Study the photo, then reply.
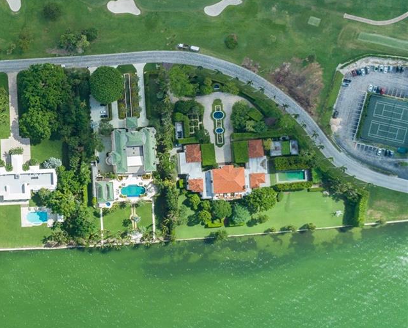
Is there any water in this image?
Yes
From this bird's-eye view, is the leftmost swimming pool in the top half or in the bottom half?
bottom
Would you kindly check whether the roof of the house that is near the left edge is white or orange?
white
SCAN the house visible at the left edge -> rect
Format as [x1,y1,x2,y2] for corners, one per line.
[0,155,57,205]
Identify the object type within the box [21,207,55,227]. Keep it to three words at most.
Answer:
swimming pool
